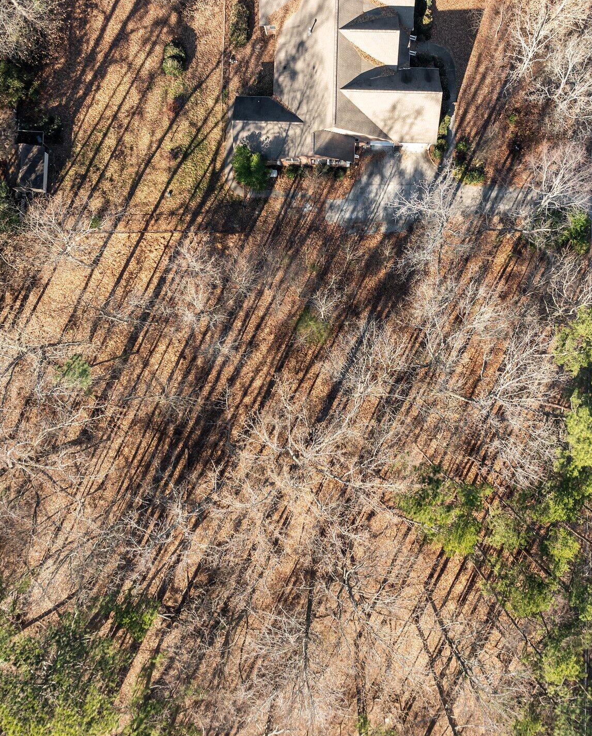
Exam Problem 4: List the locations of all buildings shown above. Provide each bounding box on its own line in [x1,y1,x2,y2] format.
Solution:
[231,0,442,170]
[17,122,61,225]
